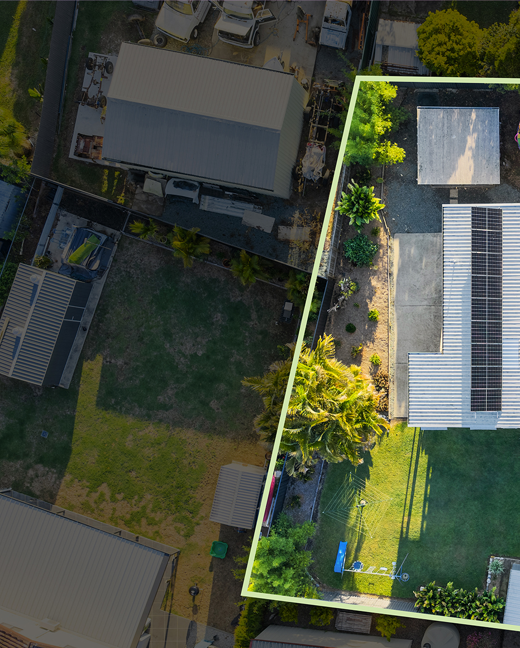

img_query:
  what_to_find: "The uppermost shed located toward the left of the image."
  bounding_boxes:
[100,40,309,201]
